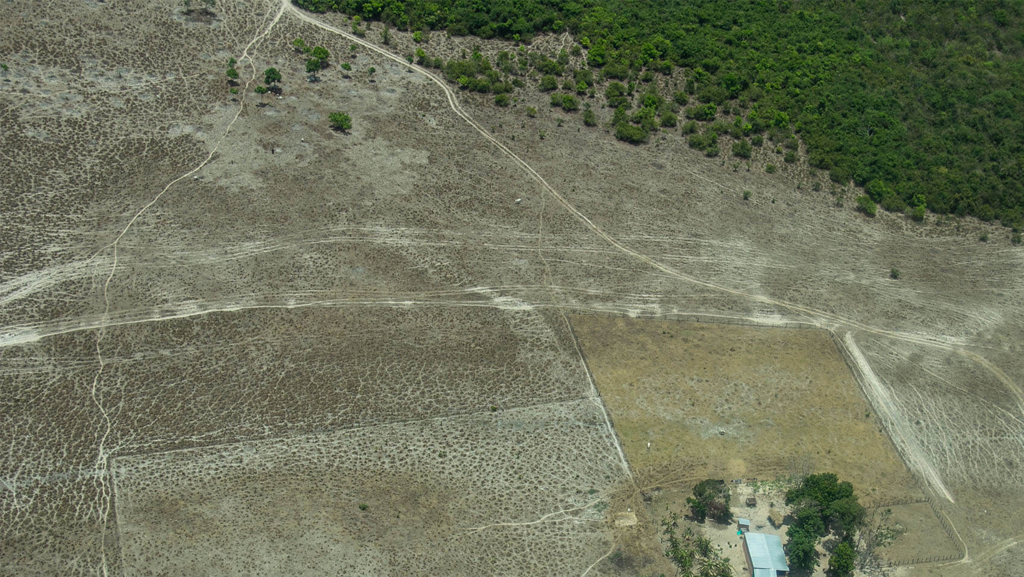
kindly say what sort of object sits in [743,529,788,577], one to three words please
house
